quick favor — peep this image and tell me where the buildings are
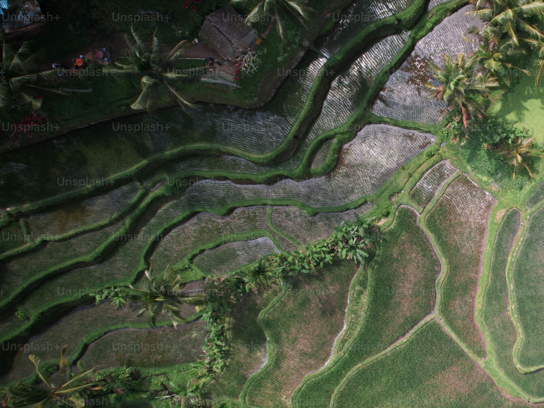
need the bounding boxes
[4,0,57,42]
[196,0,267,70]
